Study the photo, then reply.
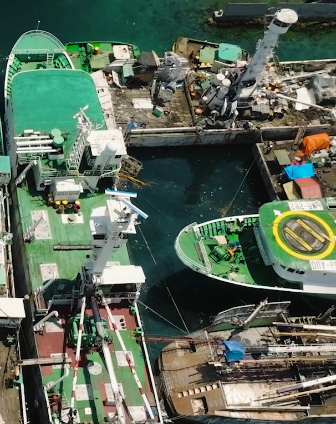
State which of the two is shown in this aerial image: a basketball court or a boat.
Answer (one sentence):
There is a boat in the scene.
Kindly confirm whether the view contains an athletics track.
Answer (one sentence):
No, this view has no athletics track in it.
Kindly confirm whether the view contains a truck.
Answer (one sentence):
No, I can see no truck in this picture.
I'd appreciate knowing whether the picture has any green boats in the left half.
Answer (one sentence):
Yes, in the left half there is a green boat.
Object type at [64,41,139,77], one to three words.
boat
